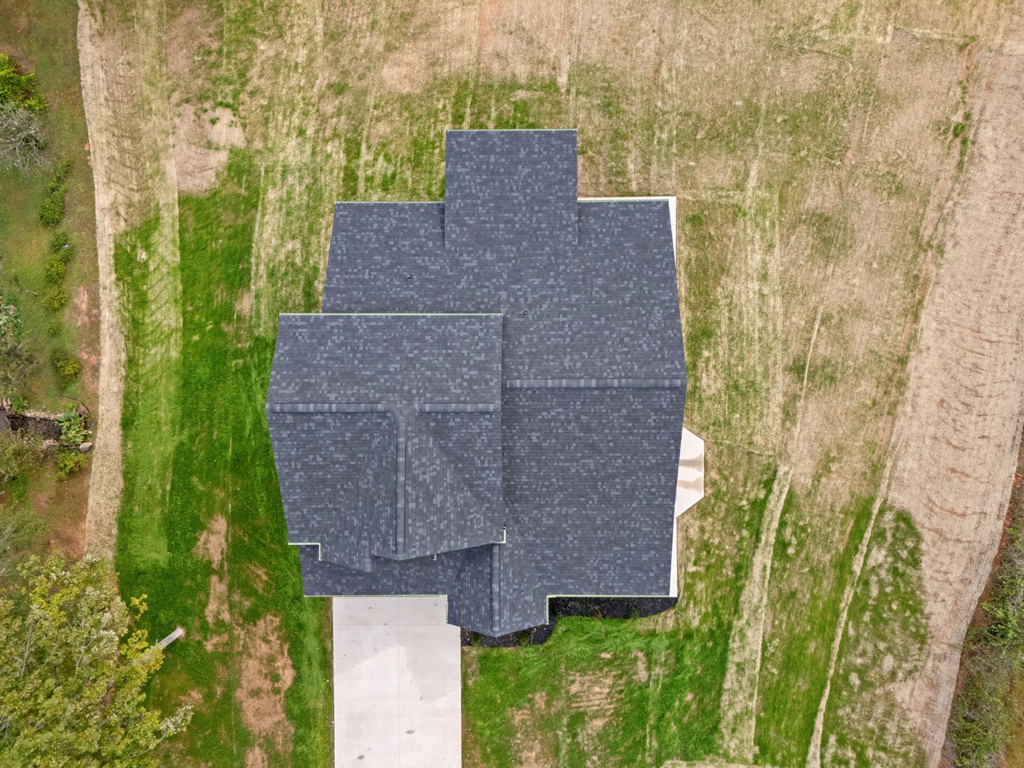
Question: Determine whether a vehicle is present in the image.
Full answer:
No, the picture doesn't show any vehicle.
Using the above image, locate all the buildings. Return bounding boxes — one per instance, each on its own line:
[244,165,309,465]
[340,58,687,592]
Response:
[267,129,686,637]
